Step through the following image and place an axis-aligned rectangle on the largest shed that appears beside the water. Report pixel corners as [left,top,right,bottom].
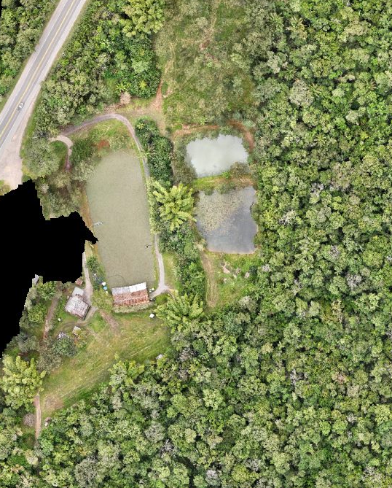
[113,283,149,307]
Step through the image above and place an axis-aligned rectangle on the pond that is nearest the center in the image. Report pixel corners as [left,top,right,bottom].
[196,187,256,252]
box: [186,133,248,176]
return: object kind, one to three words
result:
pond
